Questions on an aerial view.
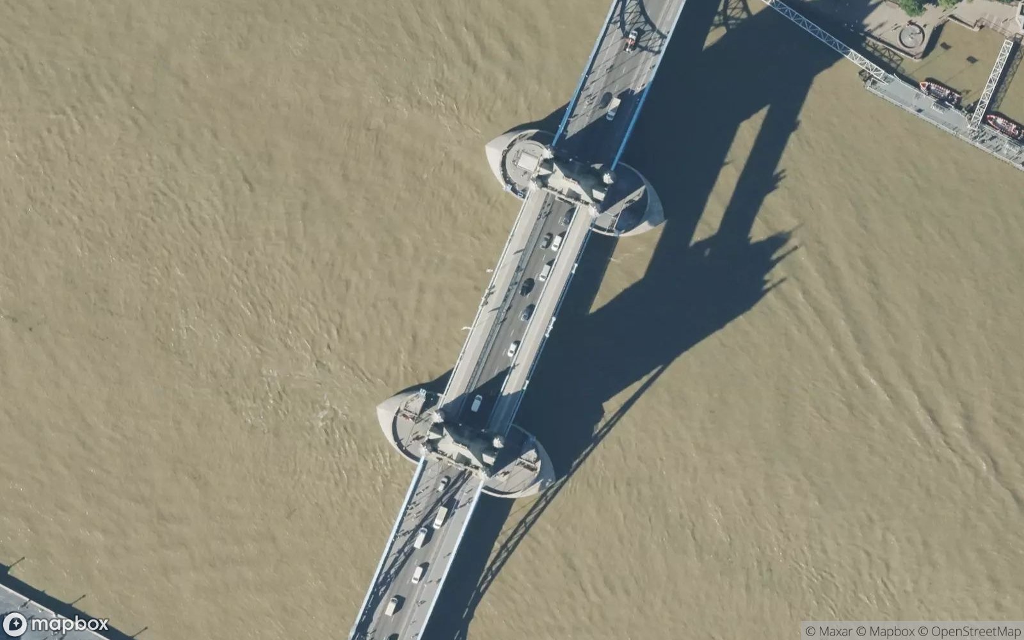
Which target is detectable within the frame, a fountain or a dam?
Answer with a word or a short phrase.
fountain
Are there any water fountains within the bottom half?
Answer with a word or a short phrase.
No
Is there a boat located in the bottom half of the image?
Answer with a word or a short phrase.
No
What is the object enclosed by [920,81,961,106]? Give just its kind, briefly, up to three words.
boat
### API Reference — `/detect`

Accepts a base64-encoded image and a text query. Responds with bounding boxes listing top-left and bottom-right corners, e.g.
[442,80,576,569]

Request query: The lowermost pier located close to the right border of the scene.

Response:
[867,72,1024,168]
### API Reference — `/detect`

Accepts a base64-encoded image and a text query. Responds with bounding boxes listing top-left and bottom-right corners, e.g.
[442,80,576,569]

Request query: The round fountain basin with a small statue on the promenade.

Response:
[895,19,929,53]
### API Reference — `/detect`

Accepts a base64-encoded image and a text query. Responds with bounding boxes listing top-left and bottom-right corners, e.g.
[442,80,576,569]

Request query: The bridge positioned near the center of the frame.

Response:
[346,0,691,640]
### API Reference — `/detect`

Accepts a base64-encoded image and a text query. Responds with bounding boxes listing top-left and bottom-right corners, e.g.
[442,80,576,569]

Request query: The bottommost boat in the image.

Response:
[986,114,1024,142]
